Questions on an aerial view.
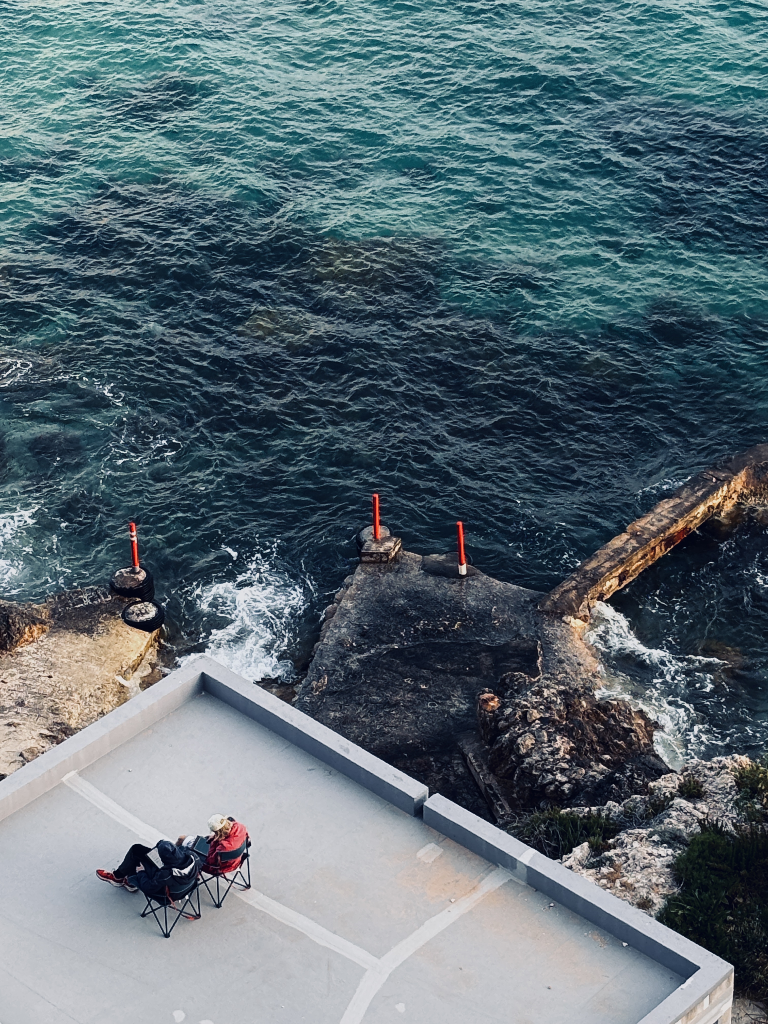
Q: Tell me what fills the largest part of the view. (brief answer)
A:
water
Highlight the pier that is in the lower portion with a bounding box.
[293,550,606,811]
